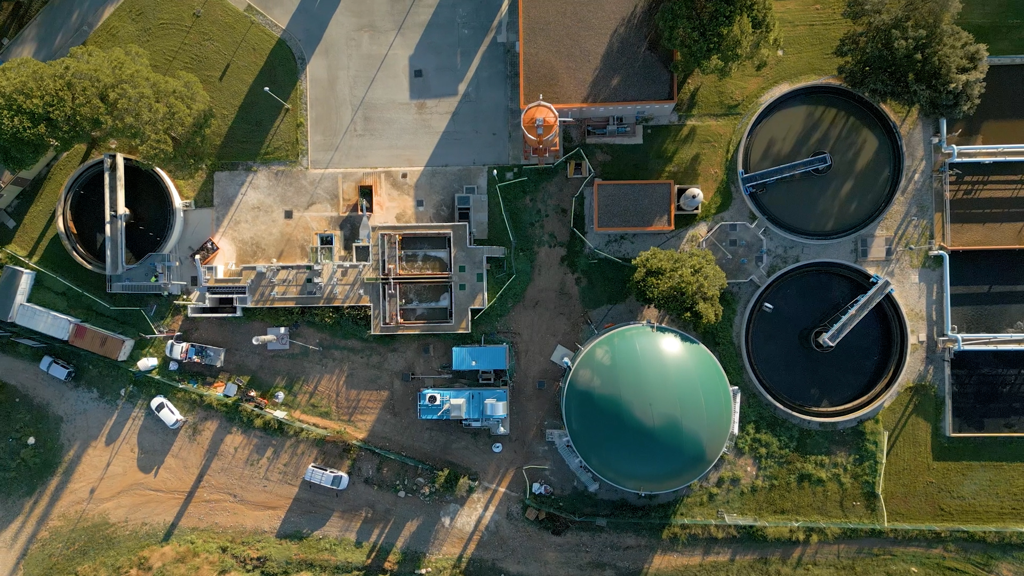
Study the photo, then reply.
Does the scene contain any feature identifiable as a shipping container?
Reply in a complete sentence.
Yes, a shipping container can be made out from above.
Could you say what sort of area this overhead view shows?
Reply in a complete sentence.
The area seen from above is an industrial area.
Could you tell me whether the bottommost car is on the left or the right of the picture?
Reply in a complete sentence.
The bottommost car appears in the left half of the scene.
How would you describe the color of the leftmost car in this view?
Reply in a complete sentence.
In this view, the leftmost car is blue.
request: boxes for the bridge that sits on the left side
[103,150,150,275]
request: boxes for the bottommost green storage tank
[554,316,734,496]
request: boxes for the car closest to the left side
[37,354,77,381]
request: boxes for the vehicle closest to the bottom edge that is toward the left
[303,461,351,490]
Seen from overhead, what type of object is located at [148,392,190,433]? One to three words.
car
